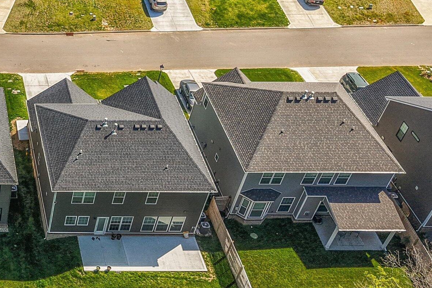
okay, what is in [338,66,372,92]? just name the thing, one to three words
car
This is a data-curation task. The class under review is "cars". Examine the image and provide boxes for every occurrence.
[178,78,198,102]
[305,0,326,5]
[338,66,372,92]
[148,0,170,11]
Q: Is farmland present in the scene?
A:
No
